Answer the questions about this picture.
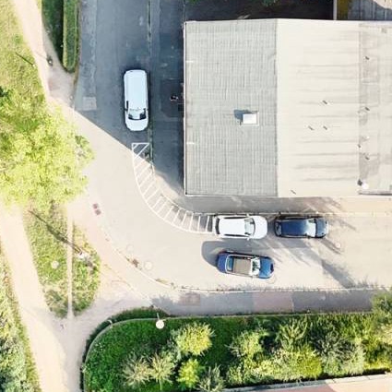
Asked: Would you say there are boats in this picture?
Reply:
No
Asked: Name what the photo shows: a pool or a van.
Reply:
van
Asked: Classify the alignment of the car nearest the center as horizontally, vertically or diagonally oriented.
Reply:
horizontally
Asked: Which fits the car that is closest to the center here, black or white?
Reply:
white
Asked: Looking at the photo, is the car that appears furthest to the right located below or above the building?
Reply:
below it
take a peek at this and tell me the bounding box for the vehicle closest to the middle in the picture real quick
[215,215,269,243]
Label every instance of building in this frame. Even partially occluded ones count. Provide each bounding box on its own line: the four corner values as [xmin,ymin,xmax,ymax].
[181,18,392,199]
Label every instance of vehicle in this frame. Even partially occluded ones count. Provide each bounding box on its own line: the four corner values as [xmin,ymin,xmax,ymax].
[215,215,269,243]
[217,254,275,282]
[275,216,330,243]
[122,71,151,132]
